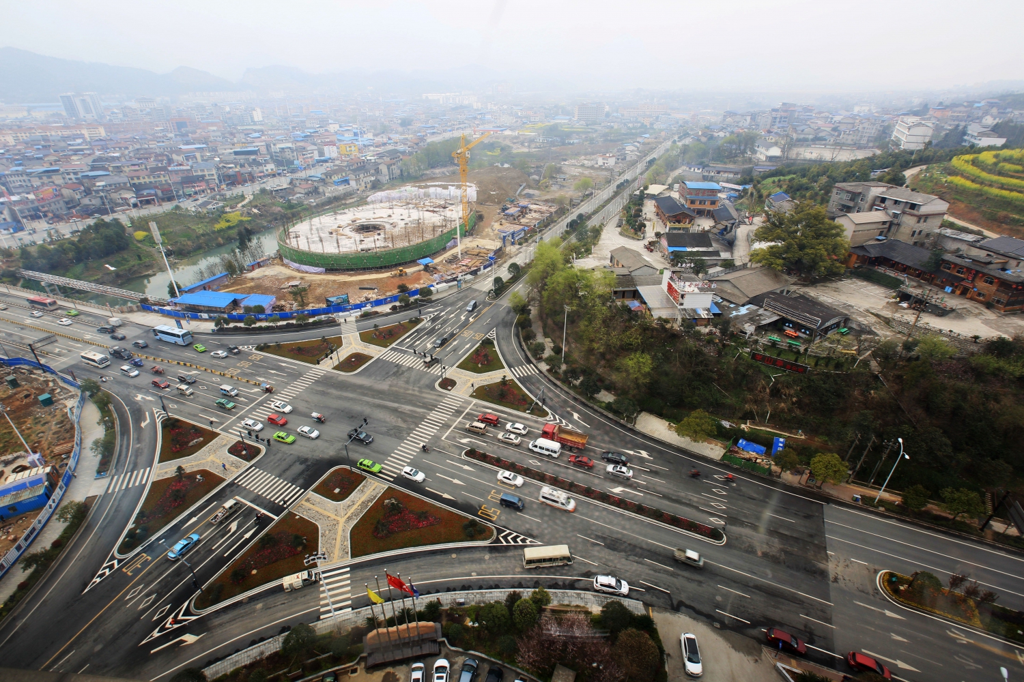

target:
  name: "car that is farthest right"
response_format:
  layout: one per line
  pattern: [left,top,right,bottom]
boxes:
[845,651,893,682]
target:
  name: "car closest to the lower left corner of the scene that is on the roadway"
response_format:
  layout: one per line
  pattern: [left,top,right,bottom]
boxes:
[164,534,202,563]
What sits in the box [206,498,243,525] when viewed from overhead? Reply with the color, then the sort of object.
gray truck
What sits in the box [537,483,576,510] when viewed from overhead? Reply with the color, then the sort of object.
white vehicle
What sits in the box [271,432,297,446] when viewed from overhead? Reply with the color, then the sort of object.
green car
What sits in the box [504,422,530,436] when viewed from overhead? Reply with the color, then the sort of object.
white car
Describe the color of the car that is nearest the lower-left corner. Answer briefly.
blue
